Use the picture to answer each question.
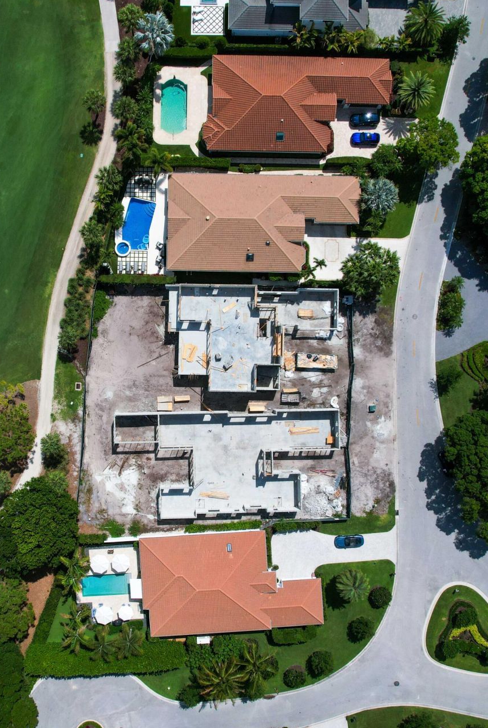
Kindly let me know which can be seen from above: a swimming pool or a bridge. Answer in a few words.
swimming pool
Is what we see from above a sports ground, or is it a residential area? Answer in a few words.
residential area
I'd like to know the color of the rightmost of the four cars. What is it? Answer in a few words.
black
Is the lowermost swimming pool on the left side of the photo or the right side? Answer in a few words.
left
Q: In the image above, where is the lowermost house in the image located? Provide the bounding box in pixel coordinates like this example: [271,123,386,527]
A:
[139,531,324,638]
